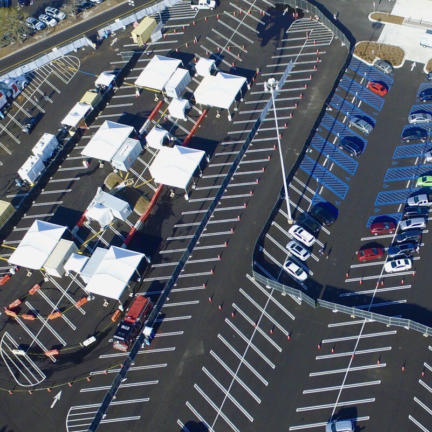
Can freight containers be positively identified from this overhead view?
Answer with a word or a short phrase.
Yes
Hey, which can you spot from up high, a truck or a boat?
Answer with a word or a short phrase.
truck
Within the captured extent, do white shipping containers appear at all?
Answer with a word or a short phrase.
Yes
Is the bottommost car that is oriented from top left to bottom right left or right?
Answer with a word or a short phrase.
right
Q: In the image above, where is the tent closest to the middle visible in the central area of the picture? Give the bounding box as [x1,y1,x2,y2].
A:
[154,145,207,197]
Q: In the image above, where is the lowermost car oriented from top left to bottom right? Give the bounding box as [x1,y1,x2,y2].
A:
[283,258,309,282]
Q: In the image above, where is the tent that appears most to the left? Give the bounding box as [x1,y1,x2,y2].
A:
[8,220,72,278]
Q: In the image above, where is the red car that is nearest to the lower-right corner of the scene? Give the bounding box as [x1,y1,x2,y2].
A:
[355,246,386,261]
